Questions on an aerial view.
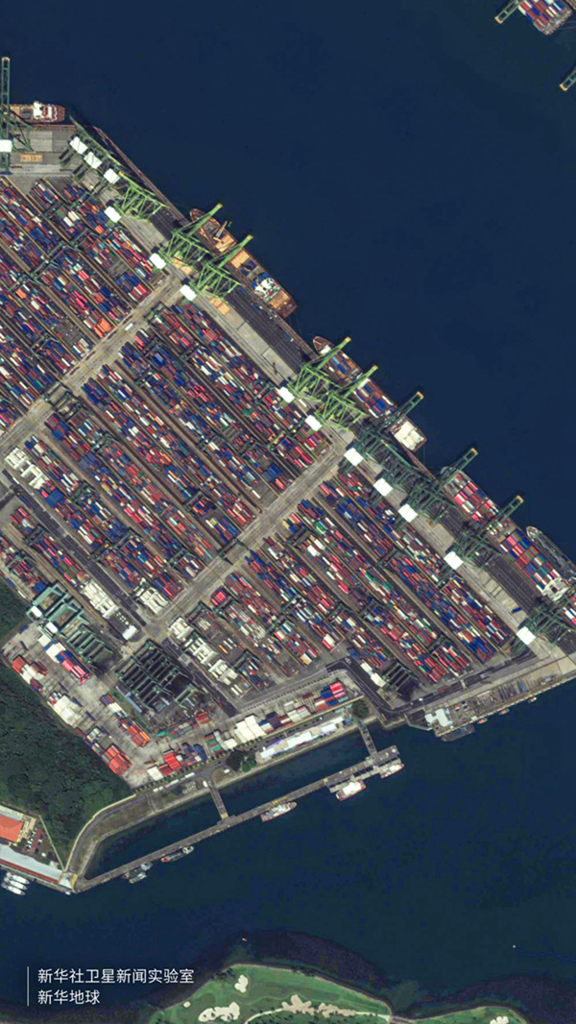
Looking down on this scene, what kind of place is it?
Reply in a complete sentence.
This image shows a port.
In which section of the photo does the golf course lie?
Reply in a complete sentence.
Look in the bottom portion of the view to spot the golf course.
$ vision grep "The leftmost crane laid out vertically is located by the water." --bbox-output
[0,57,32,161]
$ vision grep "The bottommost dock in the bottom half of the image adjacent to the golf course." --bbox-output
[75,745,402,892]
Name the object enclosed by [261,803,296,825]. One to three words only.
ship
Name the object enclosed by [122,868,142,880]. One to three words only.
ship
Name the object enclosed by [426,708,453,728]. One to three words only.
building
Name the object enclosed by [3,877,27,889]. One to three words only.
boat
